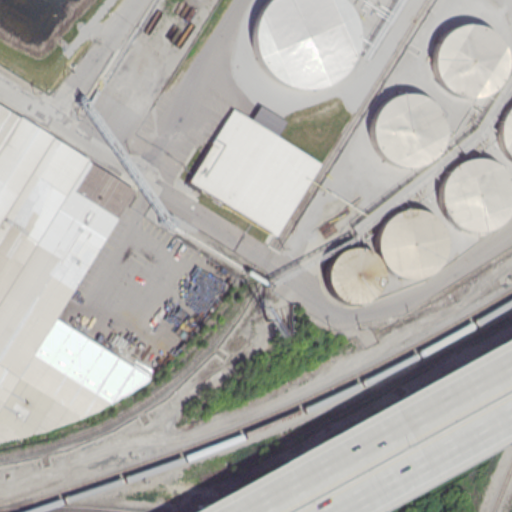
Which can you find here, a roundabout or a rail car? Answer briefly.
rail car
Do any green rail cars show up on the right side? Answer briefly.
No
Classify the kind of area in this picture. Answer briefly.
industrial area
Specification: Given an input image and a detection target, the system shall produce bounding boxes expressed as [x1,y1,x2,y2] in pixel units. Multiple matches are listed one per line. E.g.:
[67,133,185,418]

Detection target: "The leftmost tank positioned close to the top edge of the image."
[252,0,364,92]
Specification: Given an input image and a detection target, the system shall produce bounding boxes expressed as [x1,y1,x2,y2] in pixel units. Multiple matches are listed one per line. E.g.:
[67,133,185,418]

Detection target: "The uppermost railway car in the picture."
[472,298,512,329]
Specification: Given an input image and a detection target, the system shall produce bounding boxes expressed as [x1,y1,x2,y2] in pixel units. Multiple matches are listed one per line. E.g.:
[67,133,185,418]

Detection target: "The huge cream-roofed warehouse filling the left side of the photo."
[0,104,154,444]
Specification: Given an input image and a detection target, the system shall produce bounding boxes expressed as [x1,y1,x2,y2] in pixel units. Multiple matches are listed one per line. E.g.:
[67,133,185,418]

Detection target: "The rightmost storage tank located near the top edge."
[432,24,512,101]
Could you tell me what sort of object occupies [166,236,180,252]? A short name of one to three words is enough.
vehicle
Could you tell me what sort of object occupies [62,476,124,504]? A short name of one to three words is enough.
rail car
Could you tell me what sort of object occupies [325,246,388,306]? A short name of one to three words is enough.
storage tank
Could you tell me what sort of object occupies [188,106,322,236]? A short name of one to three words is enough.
building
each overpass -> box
[198,338,512,512]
